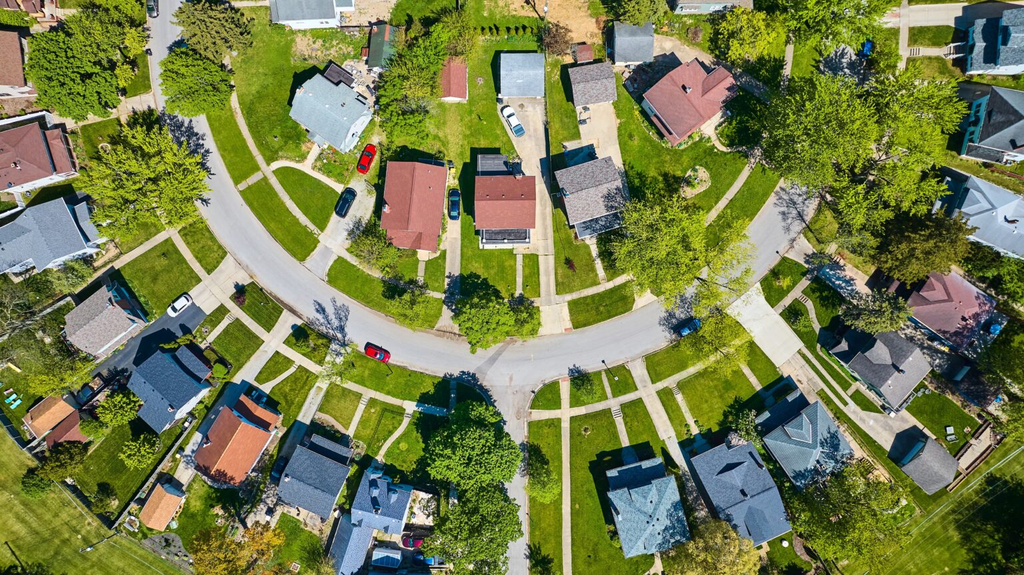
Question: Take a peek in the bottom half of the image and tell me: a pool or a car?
car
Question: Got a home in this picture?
Yes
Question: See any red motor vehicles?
Yes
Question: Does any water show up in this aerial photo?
No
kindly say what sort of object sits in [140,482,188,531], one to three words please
building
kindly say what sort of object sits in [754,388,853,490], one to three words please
house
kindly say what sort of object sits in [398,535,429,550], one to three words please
car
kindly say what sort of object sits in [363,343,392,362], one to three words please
car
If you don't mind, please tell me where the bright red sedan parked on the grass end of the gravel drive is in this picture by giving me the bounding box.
[355,144,376,175]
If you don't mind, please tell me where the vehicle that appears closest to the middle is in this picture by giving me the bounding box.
[447,189,461,220]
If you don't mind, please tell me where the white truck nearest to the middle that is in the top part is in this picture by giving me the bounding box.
[500,104,527,139]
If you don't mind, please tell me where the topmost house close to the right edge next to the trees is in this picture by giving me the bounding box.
[941,7,1024,77]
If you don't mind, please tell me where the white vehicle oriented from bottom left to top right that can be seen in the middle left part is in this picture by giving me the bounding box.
[165,292,195,316]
